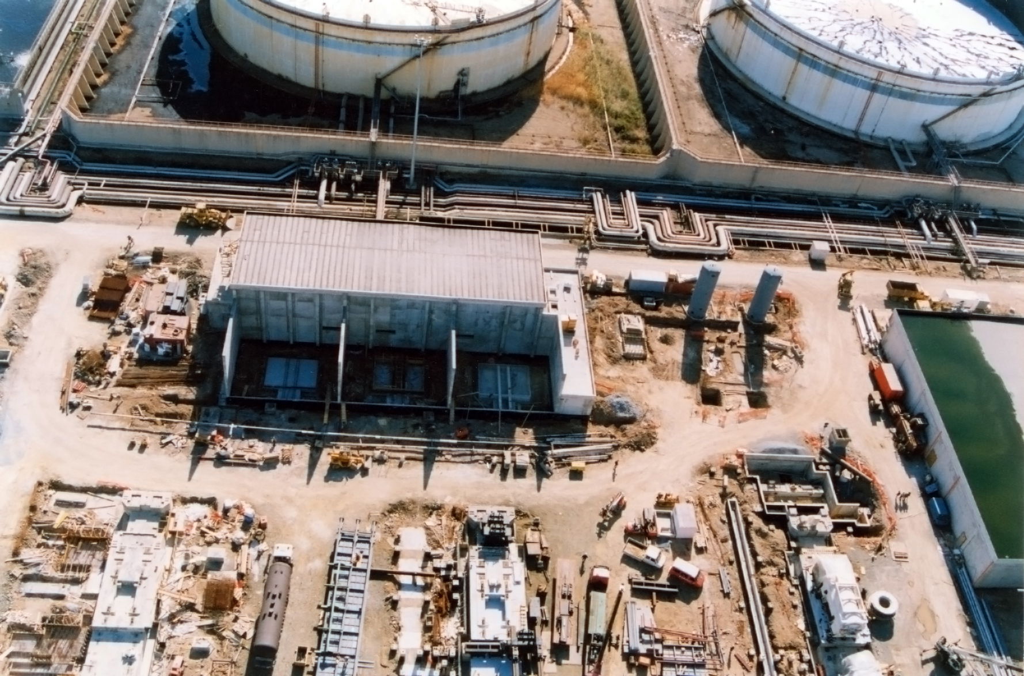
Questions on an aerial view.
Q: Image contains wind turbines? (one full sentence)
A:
Yes, the frame does contain a wind turbine.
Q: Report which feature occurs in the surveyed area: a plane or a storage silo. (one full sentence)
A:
Visible in the photo is a storage silo.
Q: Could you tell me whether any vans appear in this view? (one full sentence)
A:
Yes, you can see a van in this photo.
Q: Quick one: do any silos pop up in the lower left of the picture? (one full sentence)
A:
No, I can find no silo in the lower left of the picture.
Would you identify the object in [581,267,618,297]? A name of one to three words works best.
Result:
work vehicle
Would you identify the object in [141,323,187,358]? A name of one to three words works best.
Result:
shed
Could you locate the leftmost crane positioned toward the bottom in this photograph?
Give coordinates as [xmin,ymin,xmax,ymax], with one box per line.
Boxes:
[578,576,626,676]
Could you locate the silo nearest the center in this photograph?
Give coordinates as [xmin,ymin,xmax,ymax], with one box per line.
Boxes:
[687,258,726,326]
